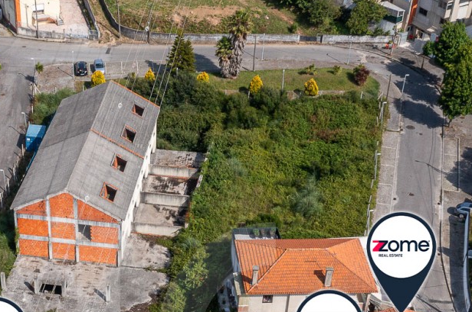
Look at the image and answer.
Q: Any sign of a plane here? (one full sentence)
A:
No, there's no plane here.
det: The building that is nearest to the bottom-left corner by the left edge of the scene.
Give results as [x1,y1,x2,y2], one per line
[12,79,161,265]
